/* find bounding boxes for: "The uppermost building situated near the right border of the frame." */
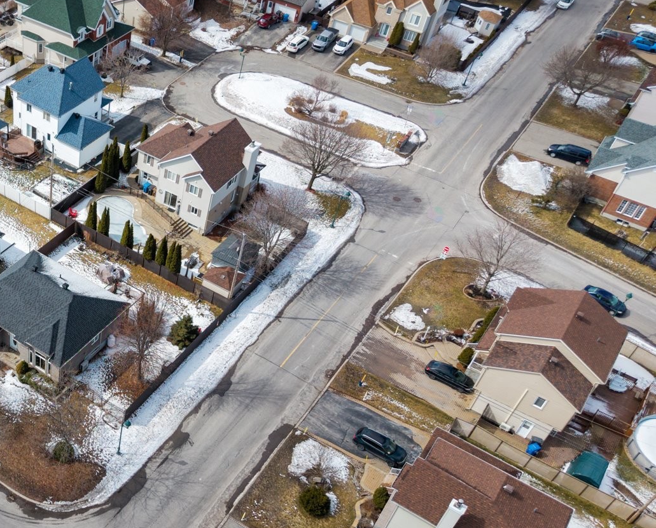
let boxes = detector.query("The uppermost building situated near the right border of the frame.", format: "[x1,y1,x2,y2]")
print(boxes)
[599,67,656,149]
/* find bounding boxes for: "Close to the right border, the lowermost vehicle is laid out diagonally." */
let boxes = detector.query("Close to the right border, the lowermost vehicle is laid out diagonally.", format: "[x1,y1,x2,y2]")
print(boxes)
[580,282,631,321]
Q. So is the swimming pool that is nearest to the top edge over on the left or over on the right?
left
